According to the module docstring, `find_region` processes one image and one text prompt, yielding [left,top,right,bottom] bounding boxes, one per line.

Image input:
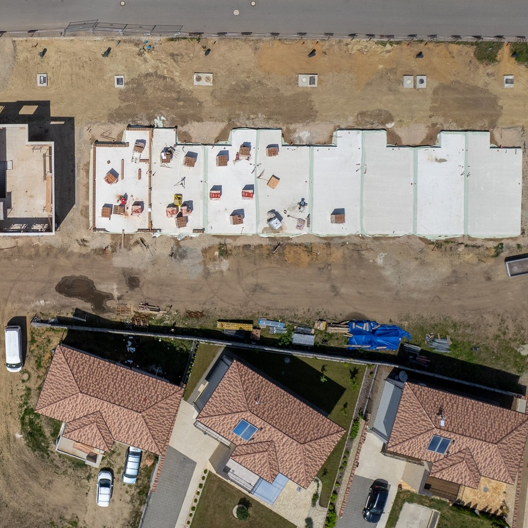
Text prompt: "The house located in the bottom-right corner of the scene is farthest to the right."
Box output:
[377,377,528,500]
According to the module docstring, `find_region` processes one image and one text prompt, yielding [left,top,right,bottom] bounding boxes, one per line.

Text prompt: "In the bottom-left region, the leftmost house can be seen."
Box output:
[35,344,185,468]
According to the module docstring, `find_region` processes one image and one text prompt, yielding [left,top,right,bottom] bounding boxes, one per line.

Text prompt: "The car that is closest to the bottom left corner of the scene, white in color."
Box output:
[96,467,114,506]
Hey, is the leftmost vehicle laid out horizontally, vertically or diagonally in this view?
vertically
